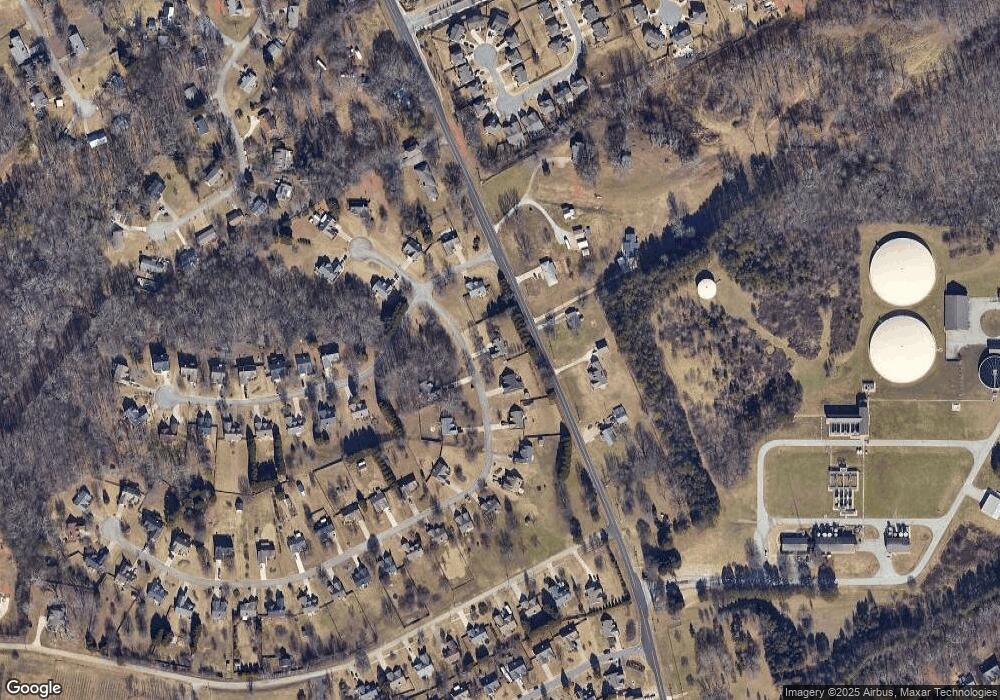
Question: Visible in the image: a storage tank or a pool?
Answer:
storage tank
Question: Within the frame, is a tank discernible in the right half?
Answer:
Yes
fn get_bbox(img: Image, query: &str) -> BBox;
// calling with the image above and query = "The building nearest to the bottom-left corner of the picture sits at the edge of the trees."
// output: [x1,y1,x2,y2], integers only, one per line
[45,608,72,630]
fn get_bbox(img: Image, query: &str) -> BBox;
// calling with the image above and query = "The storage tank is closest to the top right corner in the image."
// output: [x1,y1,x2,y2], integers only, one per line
[868,237,937,306]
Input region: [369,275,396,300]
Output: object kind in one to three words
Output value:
house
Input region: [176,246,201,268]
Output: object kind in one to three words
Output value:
house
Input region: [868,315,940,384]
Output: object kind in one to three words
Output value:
storage tank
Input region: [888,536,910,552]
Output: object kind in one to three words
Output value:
building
